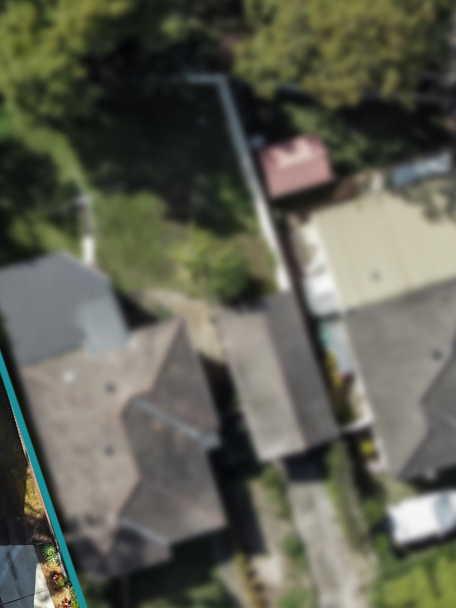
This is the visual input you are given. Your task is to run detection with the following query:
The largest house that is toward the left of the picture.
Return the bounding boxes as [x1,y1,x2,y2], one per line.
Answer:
[18,316,229,588]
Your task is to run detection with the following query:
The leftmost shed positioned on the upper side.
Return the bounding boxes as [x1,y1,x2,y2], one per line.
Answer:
[251,136,332,205]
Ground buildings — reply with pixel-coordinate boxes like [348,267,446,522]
[251,136,332,205]
[18,316,229,588]
[208,292,340,464]
[344,277,456,481]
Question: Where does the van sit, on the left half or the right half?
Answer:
right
